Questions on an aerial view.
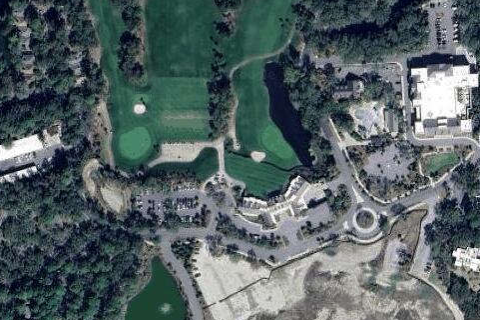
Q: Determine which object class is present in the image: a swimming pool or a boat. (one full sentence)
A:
I can see a swimming pool in this picture.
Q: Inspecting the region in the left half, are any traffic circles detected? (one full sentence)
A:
No, the scene shows no traffic circle in the left half.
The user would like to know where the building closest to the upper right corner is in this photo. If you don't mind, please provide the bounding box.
[412,64,480,136]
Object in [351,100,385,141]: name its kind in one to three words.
swimming pool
